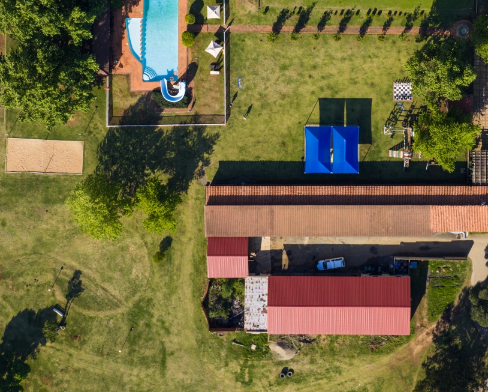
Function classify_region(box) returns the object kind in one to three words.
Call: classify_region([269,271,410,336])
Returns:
shed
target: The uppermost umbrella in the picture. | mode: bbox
[207,6,222,19]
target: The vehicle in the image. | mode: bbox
[317,258,345,270]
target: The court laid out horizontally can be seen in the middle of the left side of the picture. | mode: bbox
[6,139,83,177]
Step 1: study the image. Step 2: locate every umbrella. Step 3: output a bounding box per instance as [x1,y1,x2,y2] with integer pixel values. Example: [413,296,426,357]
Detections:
[207,6,222,19]
[205,41,224,59]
